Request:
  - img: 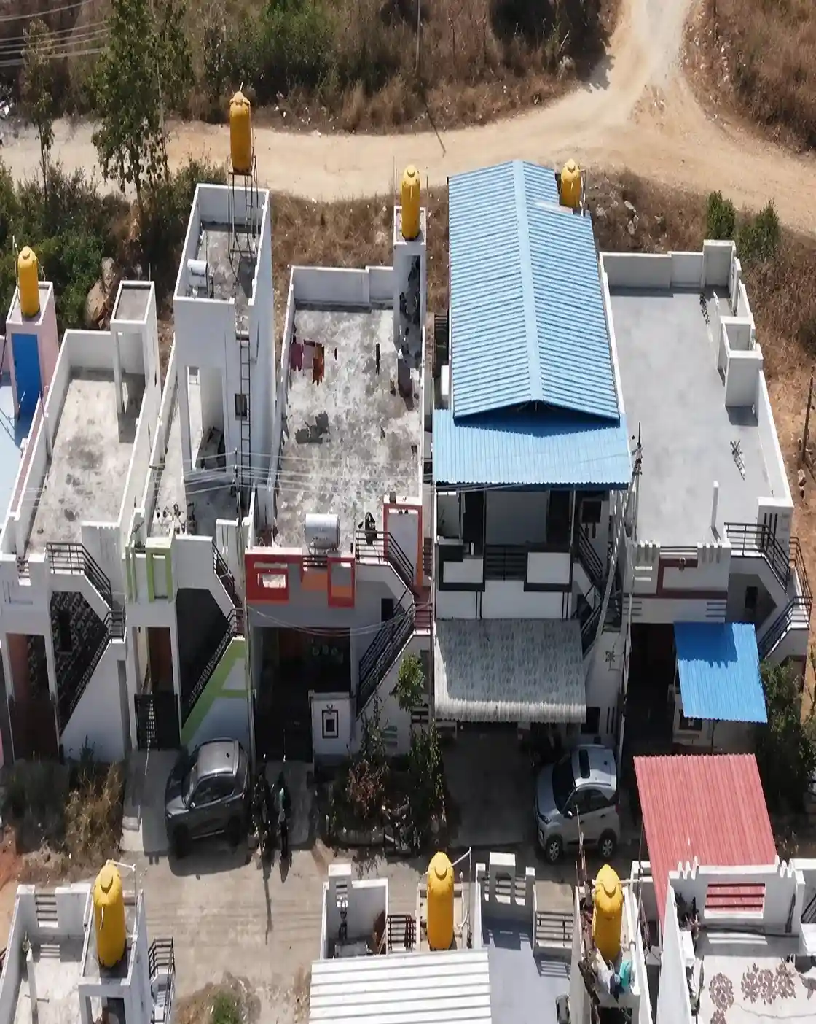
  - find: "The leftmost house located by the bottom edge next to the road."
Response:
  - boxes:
[0,876,179,1024]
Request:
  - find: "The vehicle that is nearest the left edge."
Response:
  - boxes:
[163,740,252,856]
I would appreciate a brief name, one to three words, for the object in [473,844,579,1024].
house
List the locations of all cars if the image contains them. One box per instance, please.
[533,751,623,864]
[163,740,252,856]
